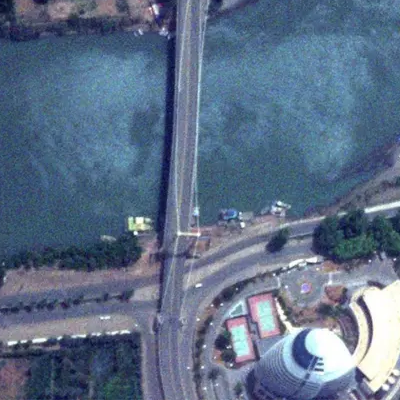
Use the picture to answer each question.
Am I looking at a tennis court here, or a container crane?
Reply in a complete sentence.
This aerial view contains a tennis court.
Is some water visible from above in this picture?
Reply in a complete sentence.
Yes, there's water in this view.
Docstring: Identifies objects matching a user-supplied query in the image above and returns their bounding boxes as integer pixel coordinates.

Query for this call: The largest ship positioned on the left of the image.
[127,218,152,232]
